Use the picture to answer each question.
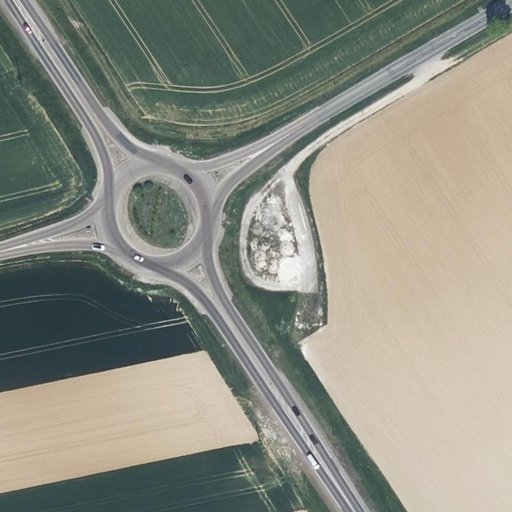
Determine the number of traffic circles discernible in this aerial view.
1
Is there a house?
No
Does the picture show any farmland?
Yes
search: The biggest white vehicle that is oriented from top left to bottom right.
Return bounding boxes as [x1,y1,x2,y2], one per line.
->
[306,452,320,470]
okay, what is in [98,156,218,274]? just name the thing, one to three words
roundabout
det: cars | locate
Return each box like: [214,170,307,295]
[308,434,319,446]
[22,22,32,34]
[134,254,144,262]
[182,173,194,185]
[92,244,105,250]
[291,405,302,418]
